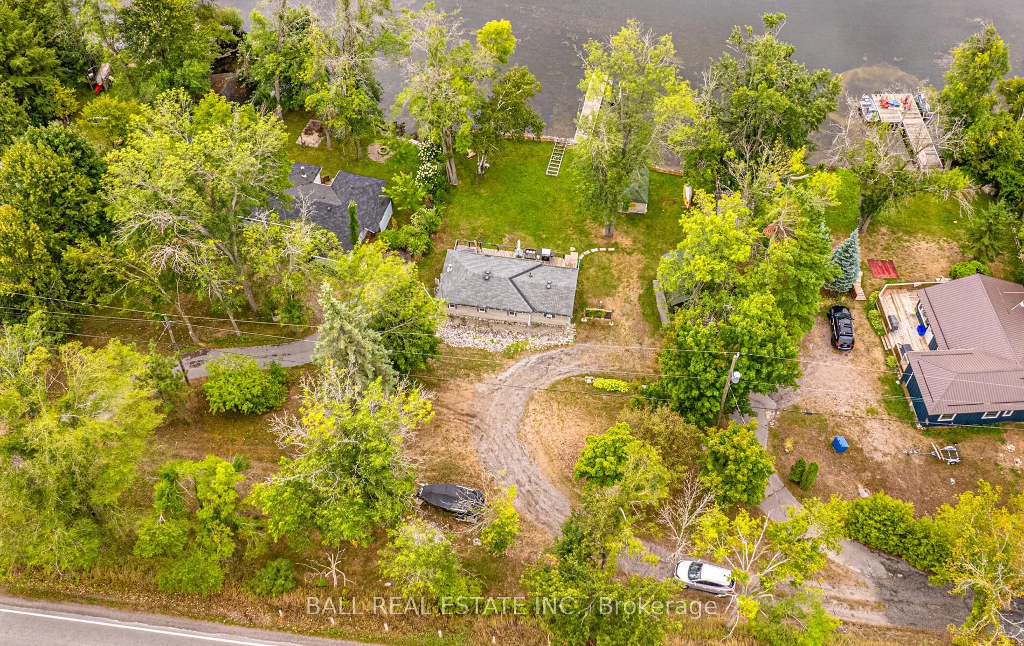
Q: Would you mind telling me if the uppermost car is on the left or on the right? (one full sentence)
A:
The uppermost car is on the right side of the image.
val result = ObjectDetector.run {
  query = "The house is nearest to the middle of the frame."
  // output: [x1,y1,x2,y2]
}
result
[426,251,580,329]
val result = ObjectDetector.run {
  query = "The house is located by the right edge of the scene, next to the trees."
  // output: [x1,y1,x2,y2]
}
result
[898,271,1024,431]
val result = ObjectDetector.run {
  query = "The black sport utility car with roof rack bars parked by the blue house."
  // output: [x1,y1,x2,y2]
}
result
[826,306,858,353]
